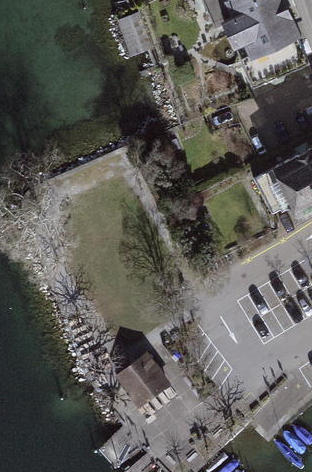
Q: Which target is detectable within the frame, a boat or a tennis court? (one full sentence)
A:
Visible in the photo is a boat.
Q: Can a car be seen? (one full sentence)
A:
Yes, looking at the shot, I can spot a car.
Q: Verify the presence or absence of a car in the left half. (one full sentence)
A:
No, there's no car to be seen in the left half.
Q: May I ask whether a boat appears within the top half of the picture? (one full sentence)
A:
No, the scene shows no boat within the top half of the picture.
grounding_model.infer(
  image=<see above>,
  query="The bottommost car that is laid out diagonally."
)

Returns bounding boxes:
[256,322,273,344]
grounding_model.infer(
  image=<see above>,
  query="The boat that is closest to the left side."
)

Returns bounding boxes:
[208,454,229,472]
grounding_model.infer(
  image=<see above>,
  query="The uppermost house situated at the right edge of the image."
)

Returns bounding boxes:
[224,0,302,63]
